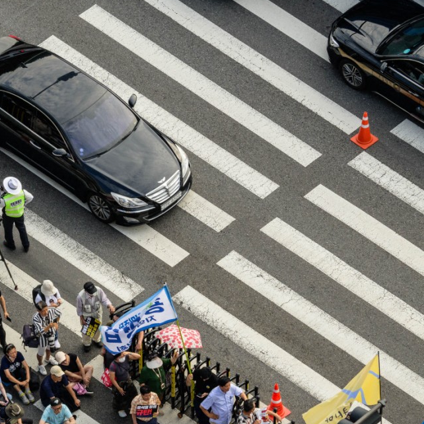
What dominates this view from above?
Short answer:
paved ground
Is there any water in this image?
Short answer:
No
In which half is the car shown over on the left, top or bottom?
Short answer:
top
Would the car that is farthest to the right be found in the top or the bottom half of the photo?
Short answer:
top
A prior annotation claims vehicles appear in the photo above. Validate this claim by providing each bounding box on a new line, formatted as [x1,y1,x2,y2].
[324,1,424,131]
[0,34,196,228]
